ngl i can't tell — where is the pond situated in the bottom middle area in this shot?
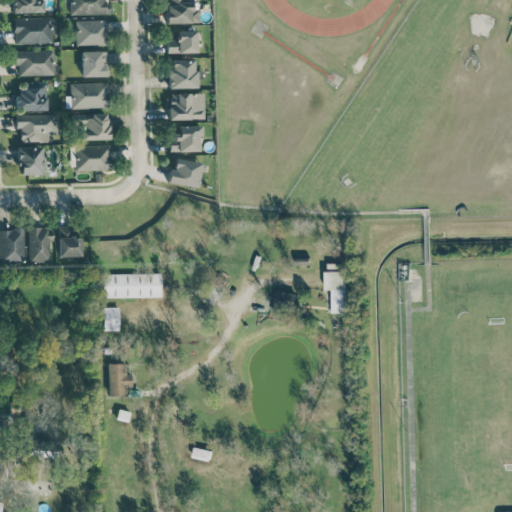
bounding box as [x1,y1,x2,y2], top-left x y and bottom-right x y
[250,337,310,432]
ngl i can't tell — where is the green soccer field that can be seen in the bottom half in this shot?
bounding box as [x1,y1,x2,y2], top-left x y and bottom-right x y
[416,264,512,512]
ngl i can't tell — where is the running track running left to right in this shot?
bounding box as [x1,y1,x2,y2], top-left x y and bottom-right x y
[264,0,394,36]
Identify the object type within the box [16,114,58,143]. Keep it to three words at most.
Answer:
house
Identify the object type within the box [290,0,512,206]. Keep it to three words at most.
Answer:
sports field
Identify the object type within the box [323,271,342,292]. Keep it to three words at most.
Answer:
barn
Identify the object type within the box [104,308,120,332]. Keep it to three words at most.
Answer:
shed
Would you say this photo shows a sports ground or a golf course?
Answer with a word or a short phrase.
sports ground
